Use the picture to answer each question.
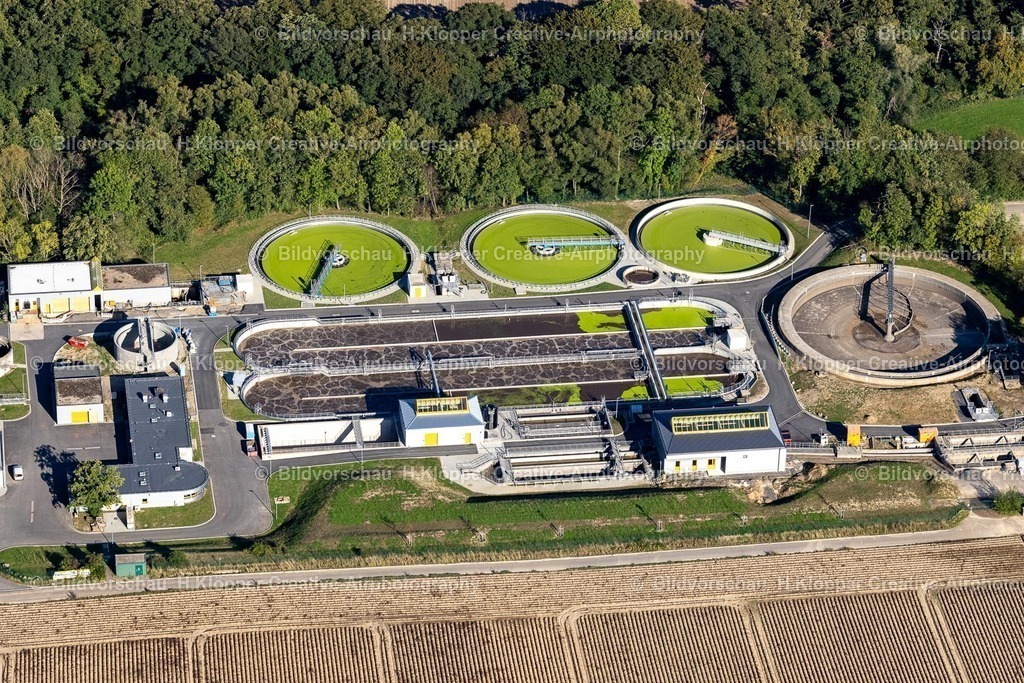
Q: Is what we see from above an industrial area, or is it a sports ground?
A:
industrial area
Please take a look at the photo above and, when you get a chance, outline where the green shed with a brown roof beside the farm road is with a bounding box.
[115,552,146,578]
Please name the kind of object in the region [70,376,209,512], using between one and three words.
building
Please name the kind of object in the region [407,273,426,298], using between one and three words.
shed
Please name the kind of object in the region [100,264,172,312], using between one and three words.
building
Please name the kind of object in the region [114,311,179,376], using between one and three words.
storage tank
